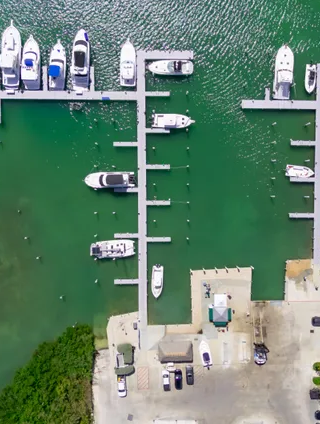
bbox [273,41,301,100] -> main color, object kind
white boat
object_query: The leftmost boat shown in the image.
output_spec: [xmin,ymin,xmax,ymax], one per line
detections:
[0,15,22,91]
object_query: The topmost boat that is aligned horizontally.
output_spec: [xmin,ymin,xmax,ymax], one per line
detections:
[148,59,193,80]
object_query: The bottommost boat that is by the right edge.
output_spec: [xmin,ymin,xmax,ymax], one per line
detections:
[284,165,315,177]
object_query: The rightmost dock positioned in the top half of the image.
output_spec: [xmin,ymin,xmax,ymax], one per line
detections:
[241,64,320,259]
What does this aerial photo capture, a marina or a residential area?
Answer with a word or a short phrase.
marina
